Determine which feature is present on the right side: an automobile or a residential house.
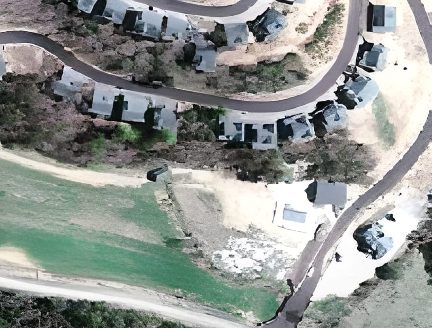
residential house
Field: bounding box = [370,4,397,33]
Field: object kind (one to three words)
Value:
house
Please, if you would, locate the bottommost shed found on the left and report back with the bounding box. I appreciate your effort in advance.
[151,161,175,184]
